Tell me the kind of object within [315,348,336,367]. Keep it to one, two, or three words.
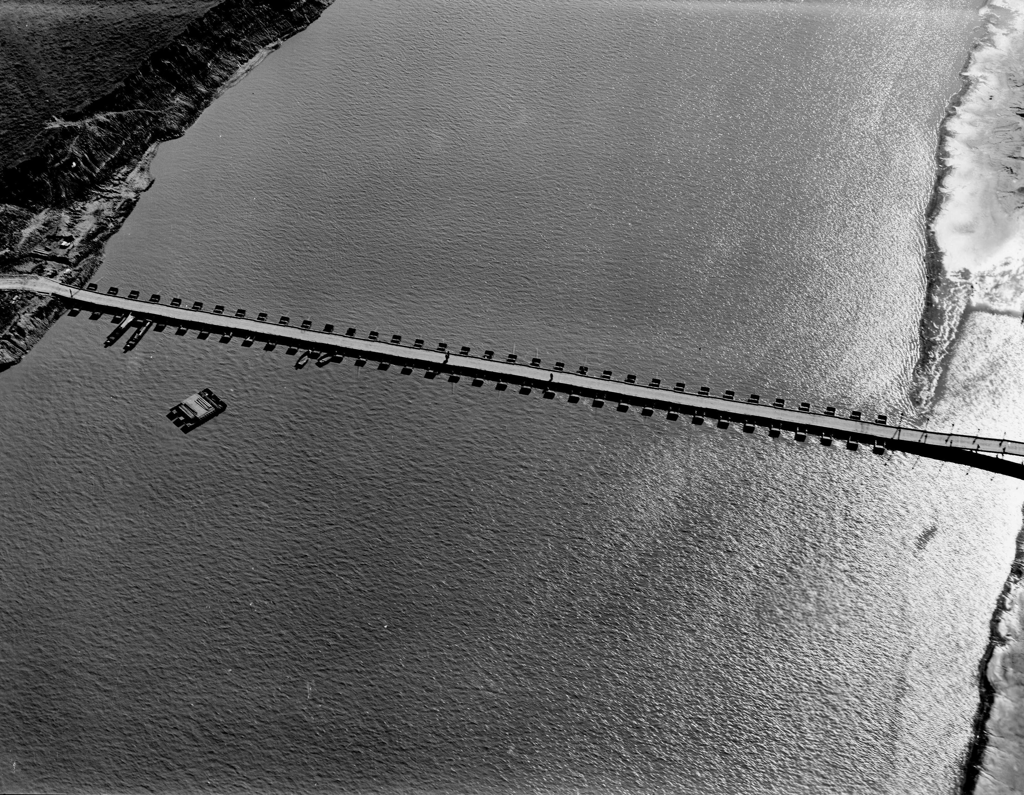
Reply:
boat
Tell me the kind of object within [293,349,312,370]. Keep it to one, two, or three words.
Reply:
boat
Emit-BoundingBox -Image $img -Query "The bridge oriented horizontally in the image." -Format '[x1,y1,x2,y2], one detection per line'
[32,277,1024,463]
